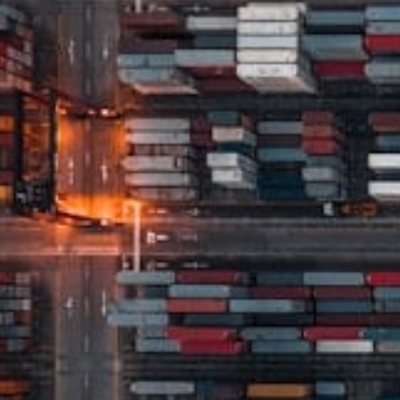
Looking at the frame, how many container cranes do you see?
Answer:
1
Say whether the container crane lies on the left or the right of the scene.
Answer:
left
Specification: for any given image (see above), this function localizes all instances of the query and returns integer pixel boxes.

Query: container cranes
[10,73,124,226]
